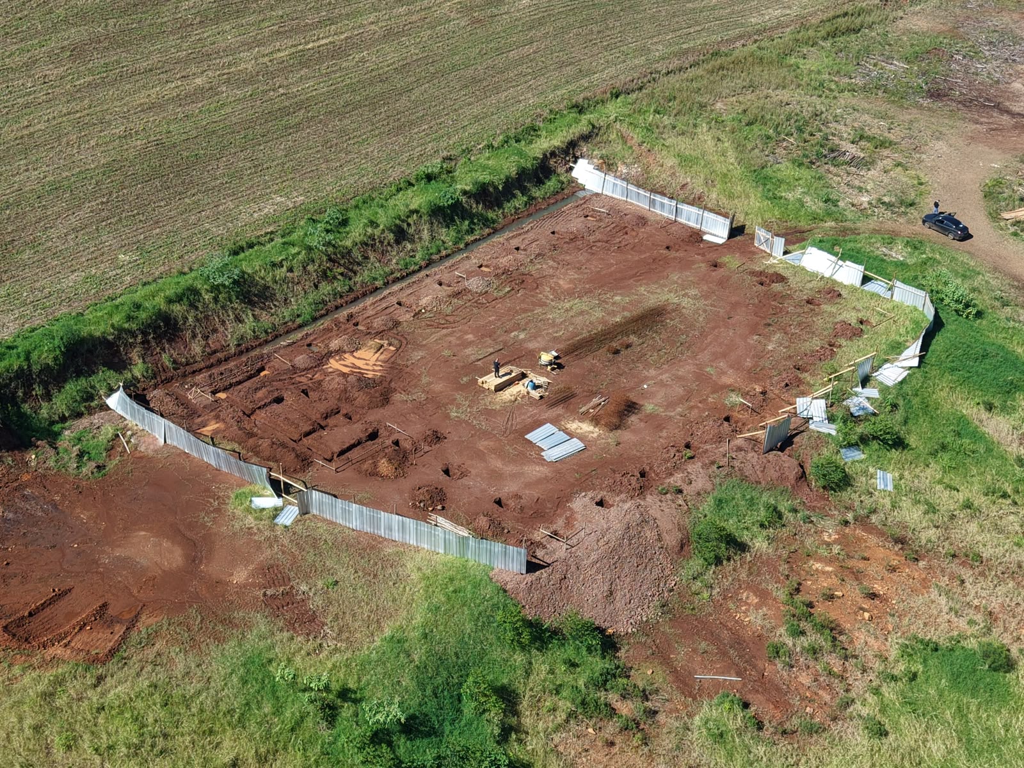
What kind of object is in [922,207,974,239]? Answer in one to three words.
car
